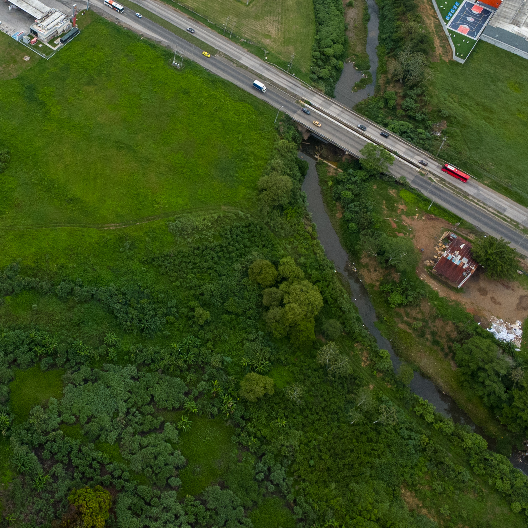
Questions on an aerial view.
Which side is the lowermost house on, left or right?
right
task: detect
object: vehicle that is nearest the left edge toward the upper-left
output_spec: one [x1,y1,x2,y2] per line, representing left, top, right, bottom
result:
[105,0,123,12]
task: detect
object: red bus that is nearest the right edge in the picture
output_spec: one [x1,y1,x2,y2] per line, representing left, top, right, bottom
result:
[441,162,471,183]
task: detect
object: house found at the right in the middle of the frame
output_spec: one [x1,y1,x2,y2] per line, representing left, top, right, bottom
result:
[431,233,477,293]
